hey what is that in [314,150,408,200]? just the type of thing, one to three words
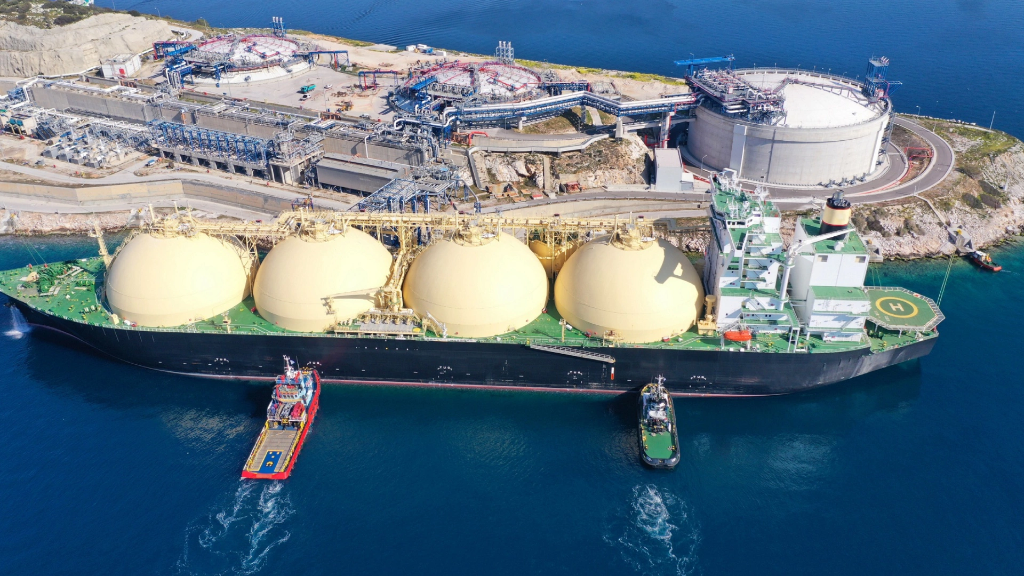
building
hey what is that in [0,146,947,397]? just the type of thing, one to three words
ship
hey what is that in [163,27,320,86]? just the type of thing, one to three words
storage tank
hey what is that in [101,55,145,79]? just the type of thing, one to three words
building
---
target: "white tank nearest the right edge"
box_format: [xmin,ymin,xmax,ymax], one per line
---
[680,46,912,186]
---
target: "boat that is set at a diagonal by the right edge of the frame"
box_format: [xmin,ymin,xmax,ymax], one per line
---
[971,249,1001,272]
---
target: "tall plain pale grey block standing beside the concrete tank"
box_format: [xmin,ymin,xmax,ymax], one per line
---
[649,146,697,191]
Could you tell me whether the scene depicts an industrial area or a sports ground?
industrial area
